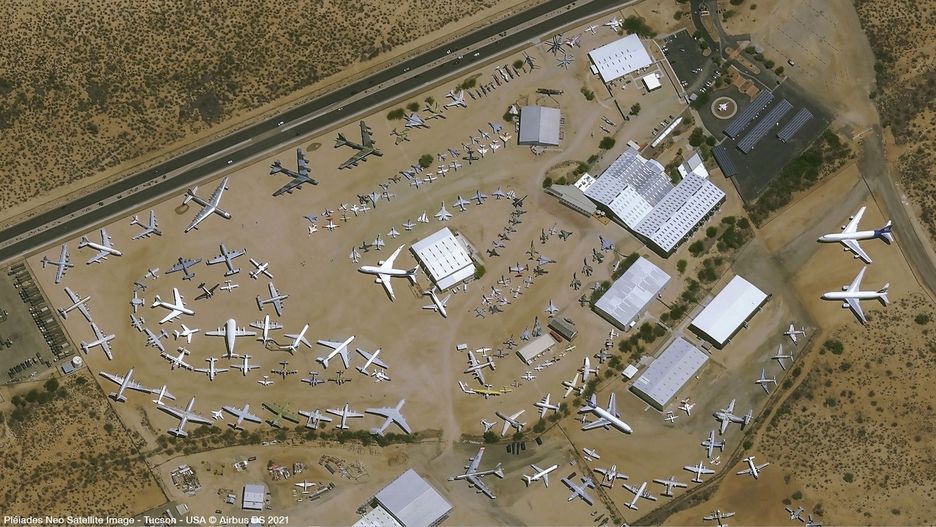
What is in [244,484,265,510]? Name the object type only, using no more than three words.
building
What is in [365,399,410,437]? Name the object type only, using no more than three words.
airplane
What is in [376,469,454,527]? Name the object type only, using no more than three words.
hangar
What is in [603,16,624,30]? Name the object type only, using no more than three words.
airplane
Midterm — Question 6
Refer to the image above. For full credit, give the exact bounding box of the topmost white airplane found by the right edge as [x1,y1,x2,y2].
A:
[818,204,895,262]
